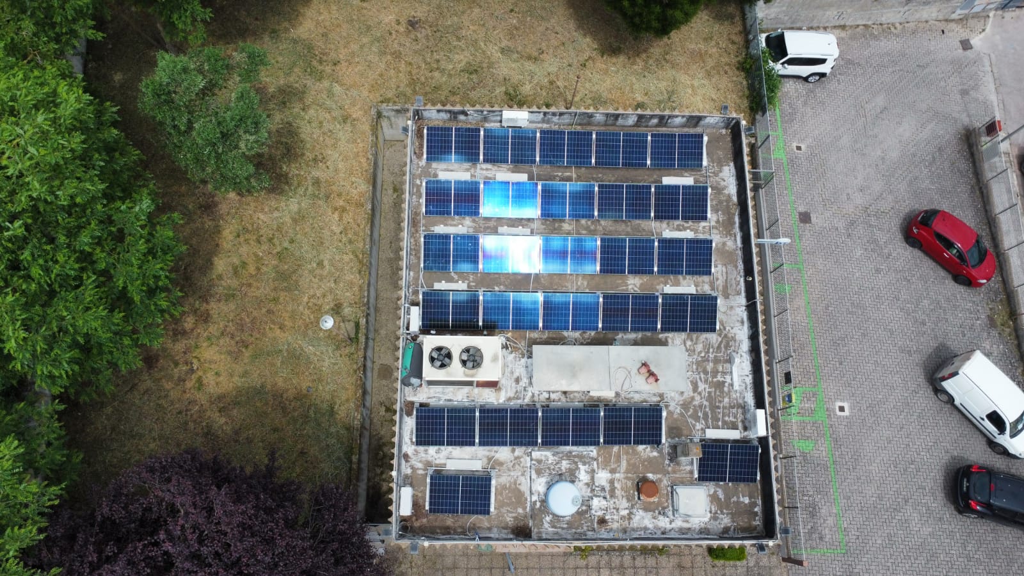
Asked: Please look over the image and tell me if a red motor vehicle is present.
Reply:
Yes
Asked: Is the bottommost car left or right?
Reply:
right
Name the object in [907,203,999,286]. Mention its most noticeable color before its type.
red car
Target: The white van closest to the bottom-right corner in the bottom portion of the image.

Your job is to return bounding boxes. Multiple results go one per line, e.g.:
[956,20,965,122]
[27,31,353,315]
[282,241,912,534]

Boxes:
[932,353,1024,458]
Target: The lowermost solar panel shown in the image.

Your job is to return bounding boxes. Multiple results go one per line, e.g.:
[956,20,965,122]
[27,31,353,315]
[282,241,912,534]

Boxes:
[428,475,493,515]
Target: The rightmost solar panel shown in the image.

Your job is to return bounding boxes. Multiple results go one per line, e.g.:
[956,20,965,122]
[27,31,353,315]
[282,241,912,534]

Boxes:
[697,444,761,482]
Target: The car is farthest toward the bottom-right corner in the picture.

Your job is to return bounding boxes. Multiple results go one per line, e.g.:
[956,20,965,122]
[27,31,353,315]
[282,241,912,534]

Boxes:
[954,467,1024,528]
